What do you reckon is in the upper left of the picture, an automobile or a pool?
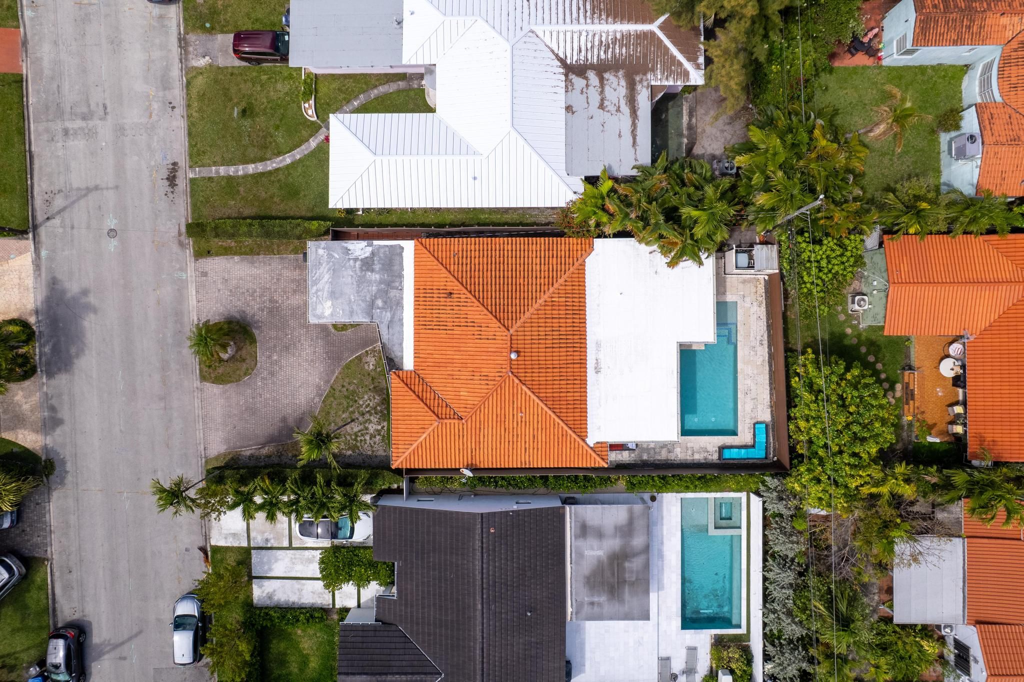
automobile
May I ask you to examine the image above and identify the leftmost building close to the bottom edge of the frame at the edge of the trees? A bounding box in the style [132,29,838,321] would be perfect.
[335,494,650,682]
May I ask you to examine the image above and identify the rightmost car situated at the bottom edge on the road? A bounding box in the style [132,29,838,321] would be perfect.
[165,597,204,672]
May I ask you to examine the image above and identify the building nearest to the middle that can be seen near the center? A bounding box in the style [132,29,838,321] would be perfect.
[307,236,715,470]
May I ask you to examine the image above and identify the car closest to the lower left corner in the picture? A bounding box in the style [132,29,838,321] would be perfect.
[46,626,86,682]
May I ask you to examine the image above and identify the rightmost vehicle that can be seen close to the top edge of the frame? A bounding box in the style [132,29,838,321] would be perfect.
[230,24,289,64]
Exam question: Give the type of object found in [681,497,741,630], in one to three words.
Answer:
swimming pool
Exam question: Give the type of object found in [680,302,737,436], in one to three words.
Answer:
swimming pool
